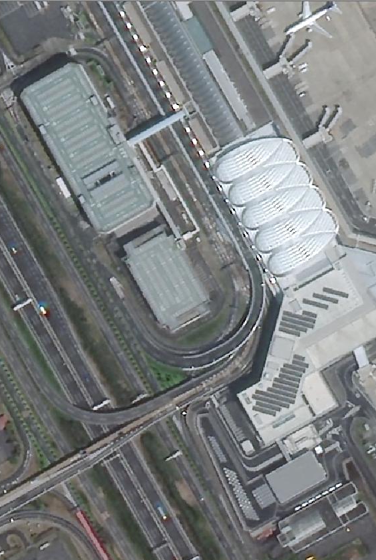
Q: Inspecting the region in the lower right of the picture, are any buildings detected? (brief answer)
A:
Yes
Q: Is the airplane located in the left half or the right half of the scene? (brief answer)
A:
right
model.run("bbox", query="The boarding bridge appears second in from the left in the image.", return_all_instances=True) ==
[264,34,312,79]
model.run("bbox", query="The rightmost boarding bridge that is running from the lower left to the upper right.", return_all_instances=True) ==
[303,107,343,148]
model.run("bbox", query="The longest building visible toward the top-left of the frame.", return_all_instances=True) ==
[22,63,159,236]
